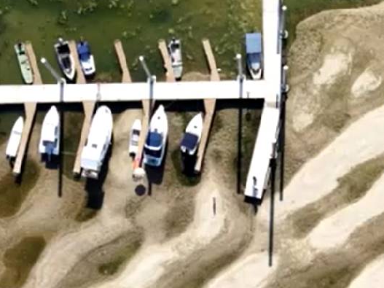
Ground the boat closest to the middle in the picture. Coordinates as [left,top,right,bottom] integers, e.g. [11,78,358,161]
[185,112,204,157]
